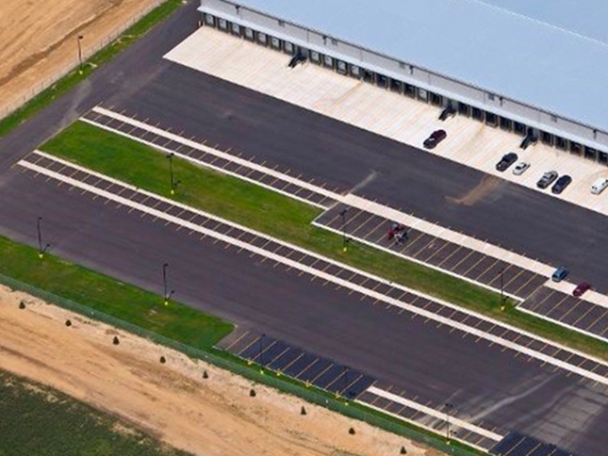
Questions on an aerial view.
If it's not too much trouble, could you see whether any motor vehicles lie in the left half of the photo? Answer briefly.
No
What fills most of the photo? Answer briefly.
paved ground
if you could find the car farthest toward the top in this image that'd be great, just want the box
[425,127,444,144]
